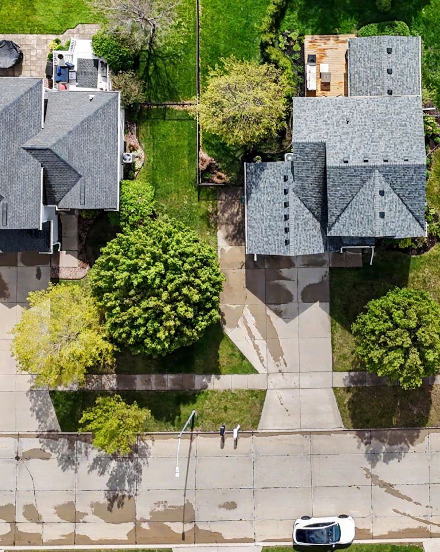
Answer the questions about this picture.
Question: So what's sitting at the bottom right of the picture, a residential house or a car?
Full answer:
You can see a car at the bottom right of the picture.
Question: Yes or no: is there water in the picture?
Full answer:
No, water can't be seen anywhere here.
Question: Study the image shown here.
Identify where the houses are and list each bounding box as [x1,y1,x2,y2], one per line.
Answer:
[244,34,427,261]
[0,77,126,257]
